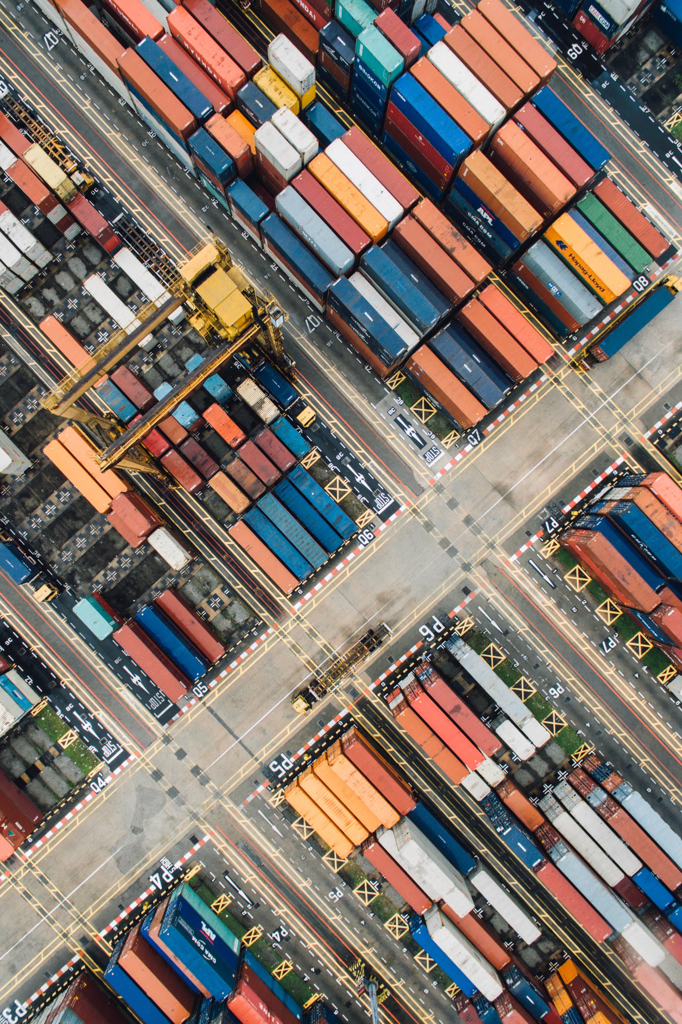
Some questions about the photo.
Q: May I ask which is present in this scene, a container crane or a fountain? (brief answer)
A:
container crane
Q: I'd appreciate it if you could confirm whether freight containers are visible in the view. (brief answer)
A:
Yes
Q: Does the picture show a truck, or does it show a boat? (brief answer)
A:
truck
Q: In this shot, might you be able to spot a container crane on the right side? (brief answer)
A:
No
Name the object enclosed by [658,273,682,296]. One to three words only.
truck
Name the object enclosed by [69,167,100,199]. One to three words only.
truck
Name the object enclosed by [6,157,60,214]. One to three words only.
shipping container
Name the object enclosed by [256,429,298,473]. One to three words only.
shipping container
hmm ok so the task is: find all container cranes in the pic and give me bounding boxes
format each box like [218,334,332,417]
[35,234,301,490]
